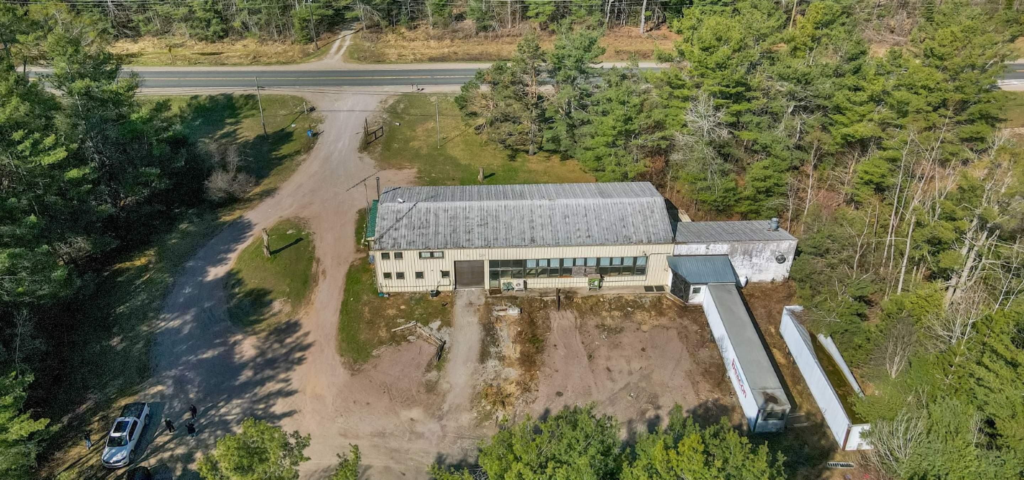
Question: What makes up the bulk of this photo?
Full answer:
For the most part, this view shows trees.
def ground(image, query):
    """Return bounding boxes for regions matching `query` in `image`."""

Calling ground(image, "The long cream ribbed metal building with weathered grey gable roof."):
[361,168,677,298]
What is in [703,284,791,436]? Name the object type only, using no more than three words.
trailer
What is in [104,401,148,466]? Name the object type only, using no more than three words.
truck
